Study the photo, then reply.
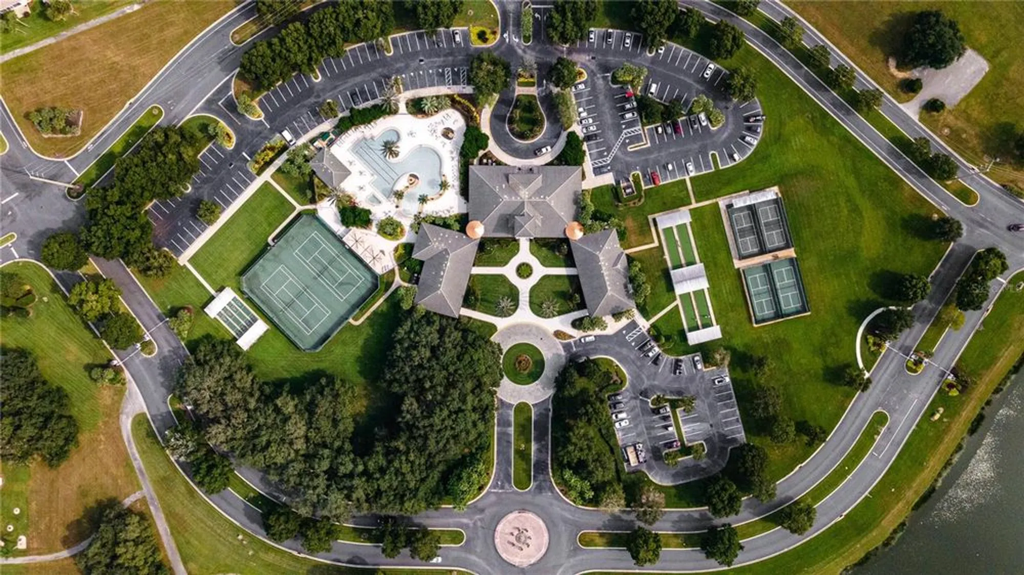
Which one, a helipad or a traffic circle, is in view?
traffic circle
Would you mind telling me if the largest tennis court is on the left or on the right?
left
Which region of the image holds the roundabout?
bottom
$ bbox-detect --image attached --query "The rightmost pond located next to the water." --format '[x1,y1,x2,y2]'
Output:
[839,352,1024,575]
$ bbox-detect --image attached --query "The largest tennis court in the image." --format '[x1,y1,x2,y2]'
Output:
[245,216,376,350]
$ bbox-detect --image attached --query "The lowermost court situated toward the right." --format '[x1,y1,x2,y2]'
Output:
[739,256,810,326]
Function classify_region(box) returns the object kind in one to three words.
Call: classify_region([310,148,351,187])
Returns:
building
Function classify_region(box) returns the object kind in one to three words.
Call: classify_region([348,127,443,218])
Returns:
swimming pool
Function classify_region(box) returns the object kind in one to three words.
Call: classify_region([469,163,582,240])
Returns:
building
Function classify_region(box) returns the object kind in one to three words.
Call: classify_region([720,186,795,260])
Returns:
sports court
